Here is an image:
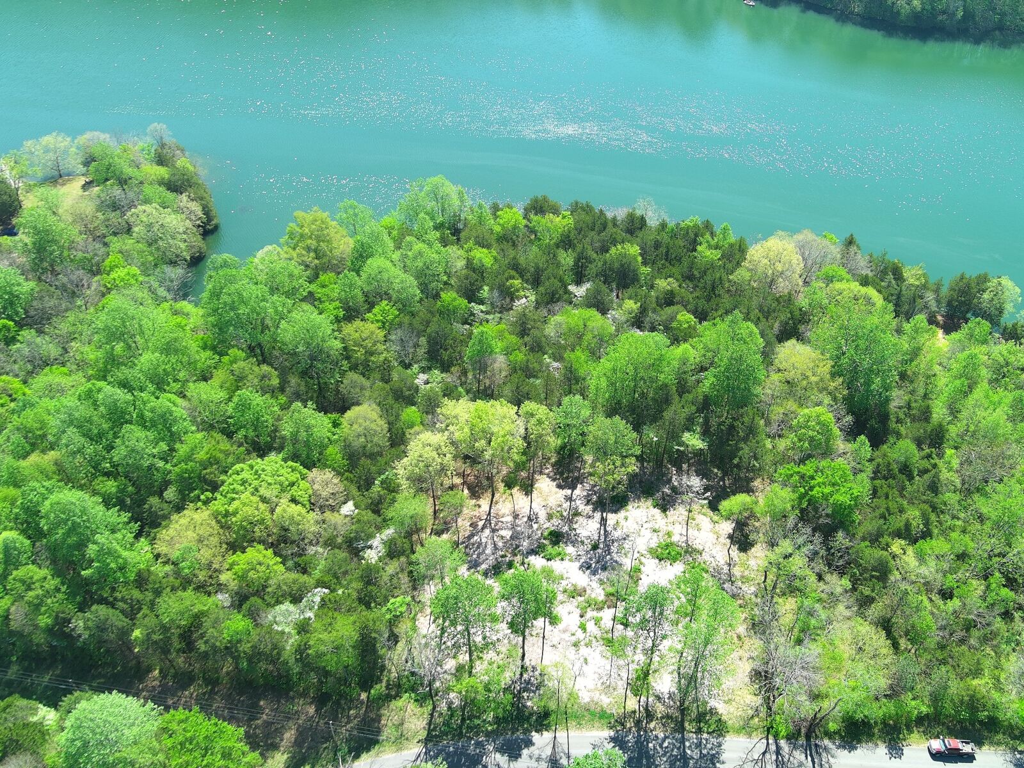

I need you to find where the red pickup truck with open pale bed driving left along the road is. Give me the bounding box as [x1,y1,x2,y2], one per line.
[931,740,980,761]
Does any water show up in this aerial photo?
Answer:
Yes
